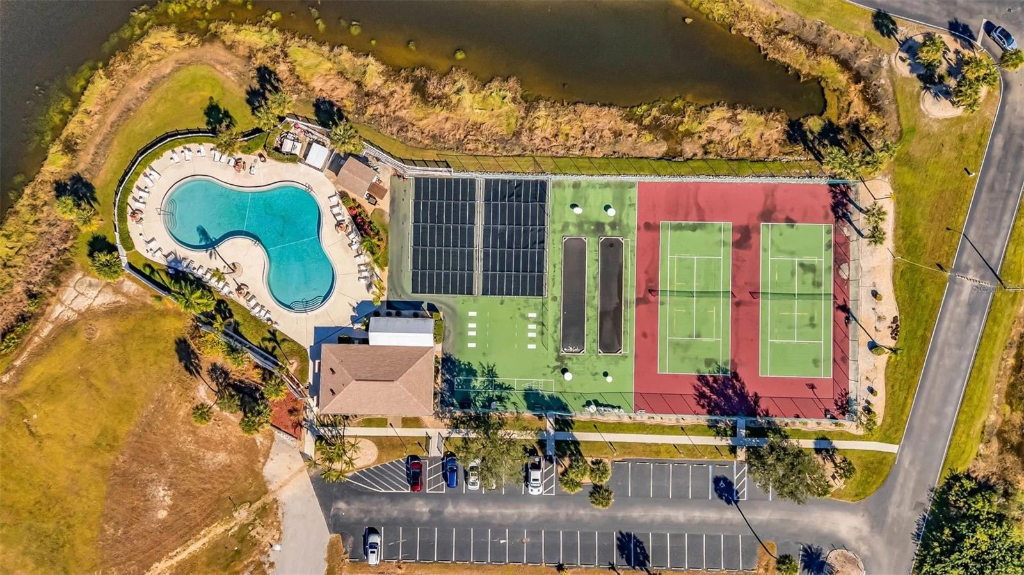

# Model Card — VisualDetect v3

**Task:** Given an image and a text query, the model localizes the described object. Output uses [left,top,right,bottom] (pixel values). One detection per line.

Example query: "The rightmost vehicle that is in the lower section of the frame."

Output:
[528,456,544,496]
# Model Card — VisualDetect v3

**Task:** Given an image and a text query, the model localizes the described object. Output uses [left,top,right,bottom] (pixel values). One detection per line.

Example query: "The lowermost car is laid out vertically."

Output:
[365,534,381,567]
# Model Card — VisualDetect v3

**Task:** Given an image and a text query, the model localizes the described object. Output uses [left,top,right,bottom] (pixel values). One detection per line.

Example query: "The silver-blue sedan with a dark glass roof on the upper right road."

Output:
[988,24,1018,51]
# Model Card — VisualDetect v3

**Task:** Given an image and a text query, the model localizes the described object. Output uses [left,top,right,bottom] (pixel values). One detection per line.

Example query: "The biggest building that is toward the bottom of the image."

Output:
[319,343,434,417]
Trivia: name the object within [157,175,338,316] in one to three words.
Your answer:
swimming pool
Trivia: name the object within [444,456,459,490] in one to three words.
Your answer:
car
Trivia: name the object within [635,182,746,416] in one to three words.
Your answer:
tennis court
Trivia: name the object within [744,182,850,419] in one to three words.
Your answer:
tennis court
